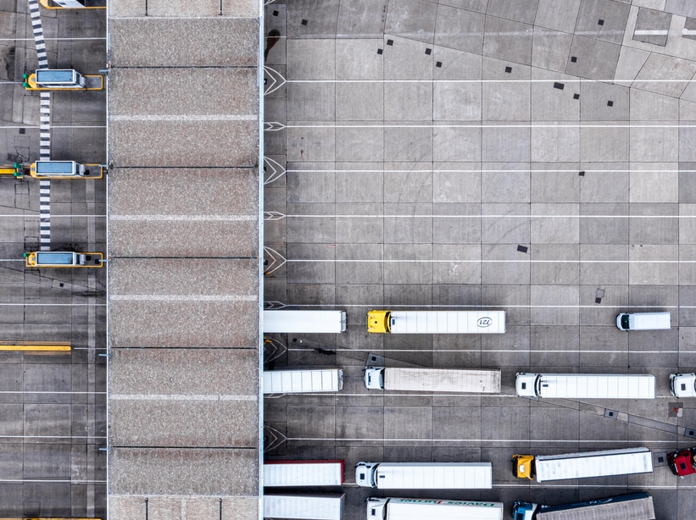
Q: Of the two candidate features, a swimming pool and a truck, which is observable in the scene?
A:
truck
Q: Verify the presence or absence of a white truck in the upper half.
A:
No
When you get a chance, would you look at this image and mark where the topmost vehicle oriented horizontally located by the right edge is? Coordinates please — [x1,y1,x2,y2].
[618,310,672,332]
